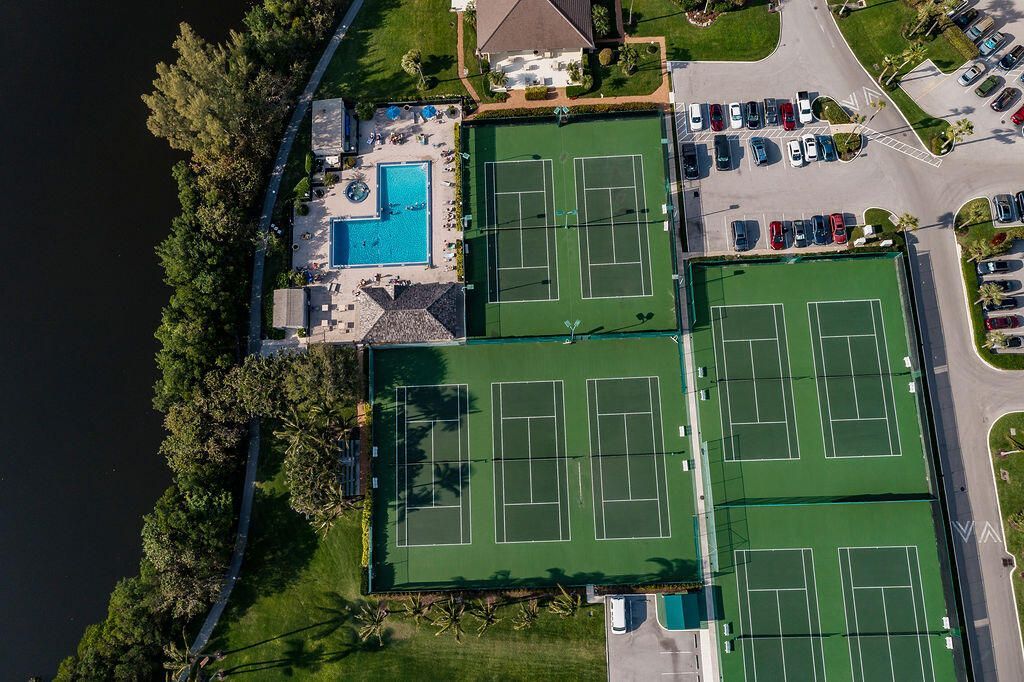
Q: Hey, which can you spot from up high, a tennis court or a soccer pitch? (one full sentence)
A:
It is a tennis court that can be seen here.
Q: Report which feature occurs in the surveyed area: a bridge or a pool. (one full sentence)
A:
Looking from above, you can make out a pool.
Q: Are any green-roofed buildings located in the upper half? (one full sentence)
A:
No, there is no green-roofed building in the upper half.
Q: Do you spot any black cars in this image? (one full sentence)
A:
Yes, I can see a black car in this picture.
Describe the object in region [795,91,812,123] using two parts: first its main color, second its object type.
white vehicle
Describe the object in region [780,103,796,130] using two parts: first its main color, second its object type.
red car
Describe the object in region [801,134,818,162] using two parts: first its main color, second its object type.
white car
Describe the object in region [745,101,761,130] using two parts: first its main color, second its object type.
black car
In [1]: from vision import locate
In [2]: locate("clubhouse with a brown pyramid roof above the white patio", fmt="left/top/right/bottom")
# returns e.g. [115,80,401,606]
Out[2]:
[477,0,594,59]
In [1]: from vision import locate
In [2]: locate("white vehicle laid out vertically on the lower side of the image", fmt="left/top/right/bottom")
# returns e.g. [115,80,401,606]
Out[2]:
[610,594,627,633]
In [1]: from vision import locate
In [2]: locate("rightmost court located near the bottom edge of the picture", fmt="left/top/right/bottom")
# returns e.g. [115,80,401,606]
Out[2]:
[818,502,958,682]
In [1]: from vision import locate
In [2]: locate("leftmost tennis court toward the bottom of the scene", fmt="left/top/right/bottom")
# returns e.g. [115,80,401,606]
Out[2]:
[372,344,485,592]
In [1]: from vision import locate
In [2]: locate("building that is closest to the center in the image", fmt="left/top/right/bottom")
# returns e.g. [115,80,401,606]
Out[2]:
[360,283,466,342]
